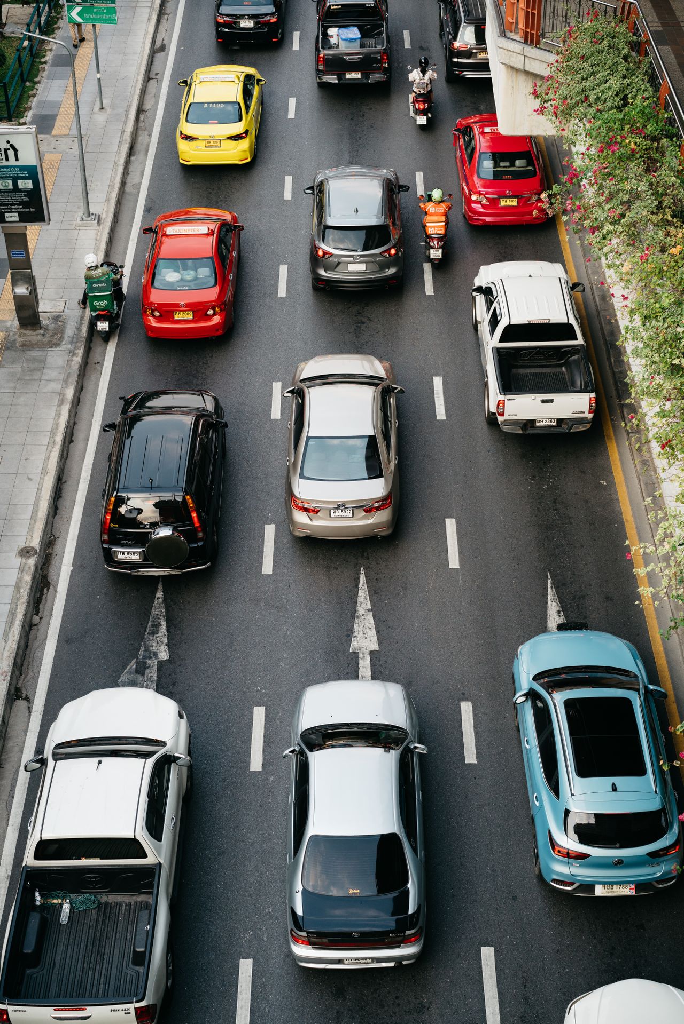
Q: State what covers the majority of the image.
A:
paved ground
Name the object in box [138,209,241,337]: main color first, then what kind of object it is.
red car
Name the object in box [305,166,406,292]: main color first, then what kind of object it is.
gray car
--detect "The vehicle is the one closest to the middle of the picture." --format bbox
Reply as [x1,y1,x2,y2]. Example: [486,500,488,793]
[283,357,405,538]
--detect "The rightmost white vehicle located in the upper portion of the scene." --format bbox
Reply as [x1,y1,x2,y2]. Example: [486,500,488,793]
[471,264,602,435]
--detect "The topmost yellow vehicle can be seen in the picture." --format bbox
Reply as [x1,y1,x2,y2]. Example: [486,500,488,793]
[175,67,263,165]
